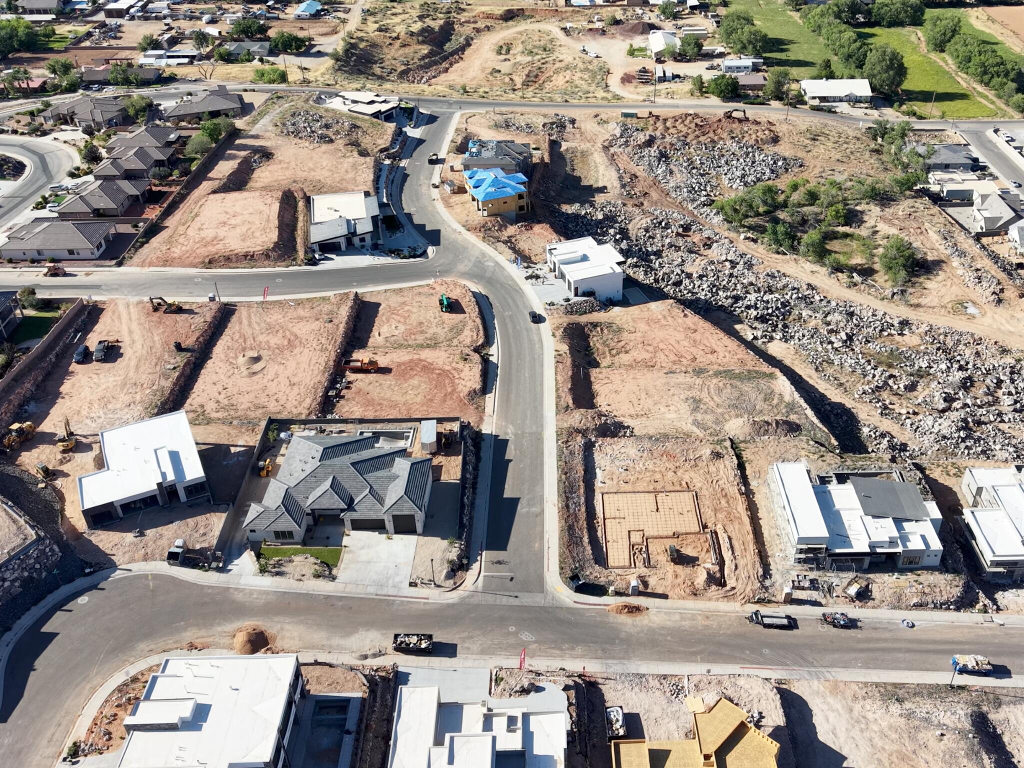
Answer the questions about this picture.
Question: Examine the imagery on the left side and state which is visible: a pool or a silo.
pool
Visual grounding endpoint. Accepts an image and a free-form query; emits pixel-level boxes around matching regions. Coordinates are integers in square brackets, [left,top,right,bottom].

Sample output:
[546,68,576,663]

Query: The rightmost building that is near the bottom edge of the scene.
[612,698,780,768]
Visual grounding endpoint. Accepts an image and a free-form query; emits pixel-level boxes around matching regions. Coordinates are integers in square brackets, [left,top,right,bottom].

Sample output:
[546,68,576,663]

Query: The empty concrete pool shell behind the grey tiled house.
[357,427,413,448]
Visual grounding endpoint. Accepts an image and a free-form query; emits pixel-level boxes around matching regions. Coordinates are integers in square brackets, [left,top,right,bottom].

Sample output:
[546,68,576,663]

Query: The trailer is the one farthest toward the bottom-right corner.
[940,649,1000,676]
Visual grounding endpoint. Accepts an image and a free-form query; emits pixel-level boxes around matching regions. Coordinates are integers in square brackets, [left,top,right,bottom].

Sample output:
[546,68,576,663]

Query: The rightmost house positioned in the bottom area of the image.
[958,467,1024,584]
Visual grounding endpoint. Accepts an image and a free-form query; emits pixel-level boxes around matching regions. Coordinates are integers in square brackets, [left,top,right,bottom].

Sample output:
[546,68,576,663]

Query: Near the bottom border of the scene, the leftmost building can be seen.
[118,655,306,768]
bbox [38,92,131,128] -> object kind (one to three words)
house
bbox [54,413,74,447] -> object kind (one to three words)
work vehicle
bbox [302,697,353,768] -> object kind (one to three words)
swimming pool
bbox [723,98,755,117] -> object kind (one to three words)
work vehicle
